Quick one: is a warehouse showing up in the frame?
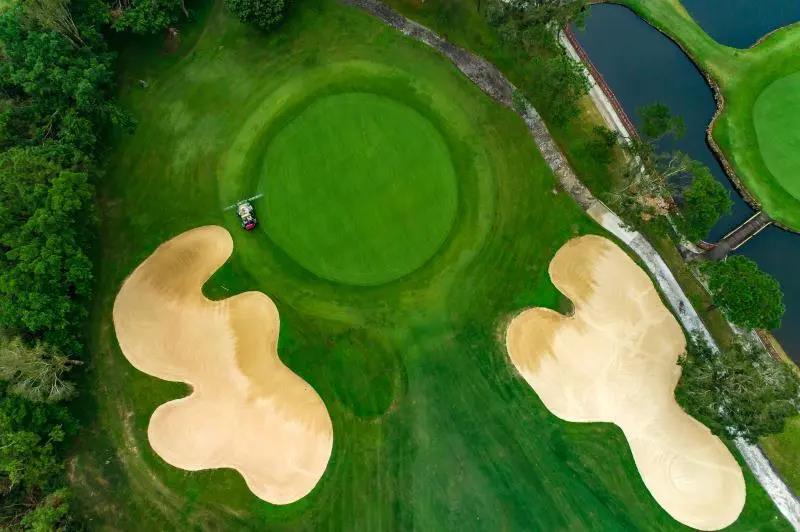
No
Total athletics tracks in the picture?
0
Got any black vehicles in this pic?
No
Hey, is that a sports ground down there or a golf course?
golf course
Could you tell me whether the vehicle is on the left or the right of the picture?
left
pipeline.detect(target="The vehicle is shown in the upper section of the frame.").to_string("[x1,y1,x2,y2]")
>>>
[222,195,260,227]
